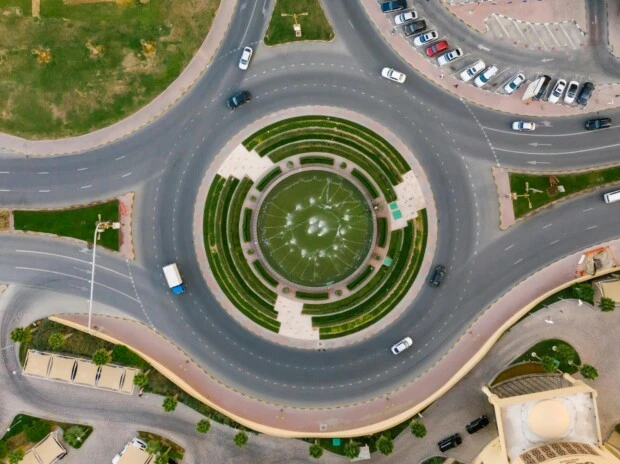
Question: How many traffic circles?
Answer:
1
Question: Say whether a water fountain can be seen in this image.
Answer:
Yes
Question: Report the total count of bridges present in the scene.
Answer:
none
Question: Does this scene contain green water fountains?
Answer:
Yes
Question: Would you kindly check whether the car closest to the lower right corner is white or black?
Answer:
black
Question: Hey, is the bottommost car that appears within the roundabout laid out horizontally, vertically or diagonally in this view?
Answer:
diagonally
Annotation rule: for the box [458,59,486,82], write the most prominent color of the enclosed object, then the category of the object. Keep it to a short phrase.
white car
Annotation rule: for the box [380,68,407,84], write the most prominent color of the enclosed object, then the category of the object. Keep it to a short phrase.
white car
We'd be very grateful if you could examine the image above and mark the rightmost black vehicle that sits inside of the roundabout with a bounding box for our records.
[430,263,447,288]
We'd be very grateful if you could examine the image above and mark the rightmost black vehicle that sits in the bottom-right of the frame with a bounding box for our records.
[464,414,490,435]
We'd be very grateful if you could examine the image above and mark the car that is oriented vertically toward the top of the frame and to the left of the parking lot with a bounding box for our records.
[239,46,252,71]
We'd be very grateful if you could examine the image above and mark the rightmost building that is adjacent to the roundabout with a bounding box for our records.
[463,371,620,464]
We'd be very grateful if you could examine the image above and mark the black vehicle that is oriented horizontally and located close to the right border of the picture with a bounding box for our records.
[582,116,612,131]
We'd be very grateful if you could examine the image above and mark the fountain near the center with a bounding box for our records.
[254,165,378,290]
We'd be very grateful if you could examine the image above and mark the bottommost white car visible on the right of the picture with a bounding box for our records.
[389,335,414,356]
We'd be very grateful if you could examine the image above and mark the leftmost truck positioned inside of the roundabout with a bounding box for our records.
[162,264,185,295]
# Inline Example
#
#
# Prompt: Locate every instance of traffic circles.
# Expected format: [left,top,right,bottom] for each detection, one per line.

[144,56,488,400]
